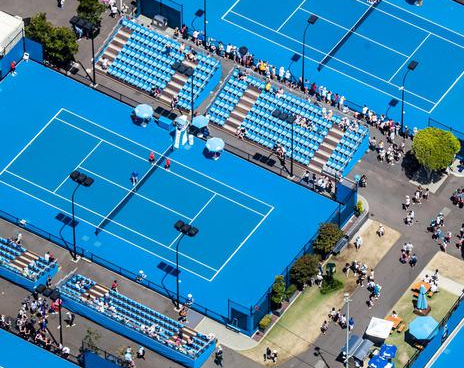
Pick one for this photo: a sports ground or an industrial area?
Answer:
sports ground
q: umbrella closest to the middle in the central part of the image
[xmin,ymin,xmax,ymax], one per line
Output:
[204,138,227,164]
